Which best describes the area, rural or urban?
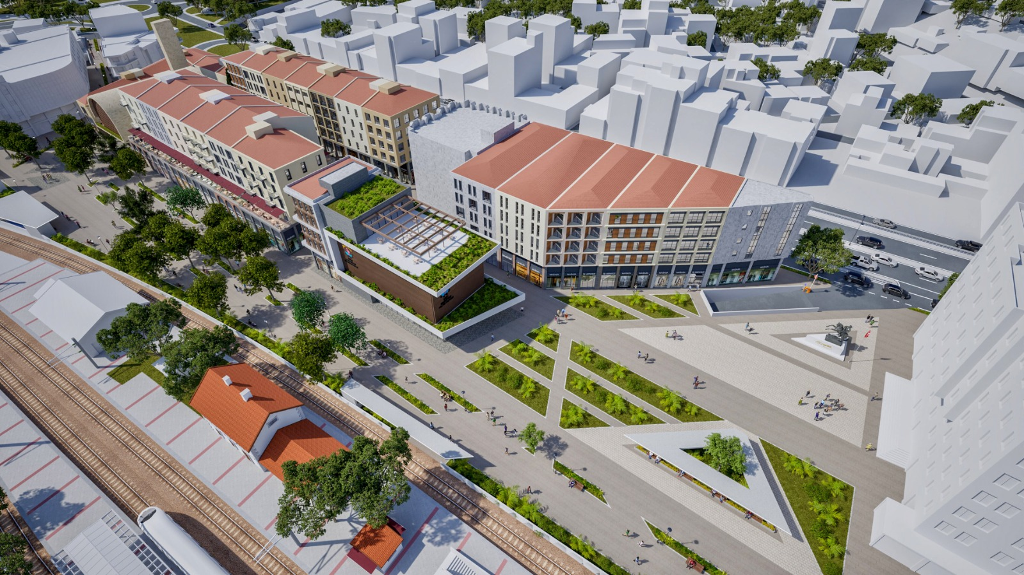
urban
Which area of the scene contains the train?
bottom left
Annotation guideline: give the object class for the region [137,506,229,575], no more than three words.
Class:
train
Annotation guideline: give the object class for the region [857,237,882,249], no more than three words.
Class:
vehicle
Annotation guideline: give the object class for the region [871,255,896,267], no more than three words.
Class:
vehicle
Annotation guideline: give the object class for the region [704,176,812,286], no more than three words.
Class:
building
